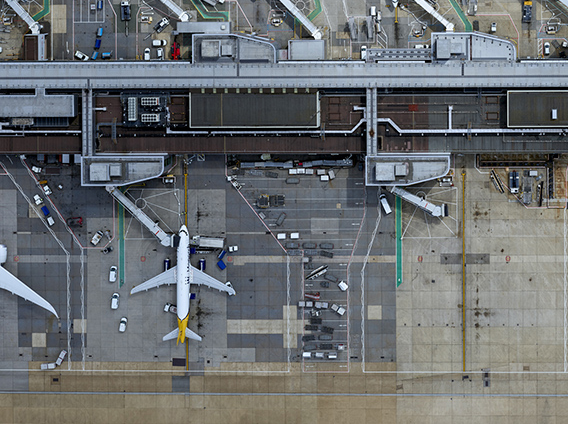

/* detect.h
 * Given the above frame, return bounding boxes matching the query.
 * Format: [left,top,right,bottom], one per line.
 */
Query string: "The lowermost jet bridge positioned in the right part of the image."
[389,185,449,218]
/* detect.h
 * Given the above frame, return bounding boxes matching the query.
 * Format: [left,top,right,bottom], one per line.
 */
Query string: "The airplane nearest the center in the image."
[129,224,236,342]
